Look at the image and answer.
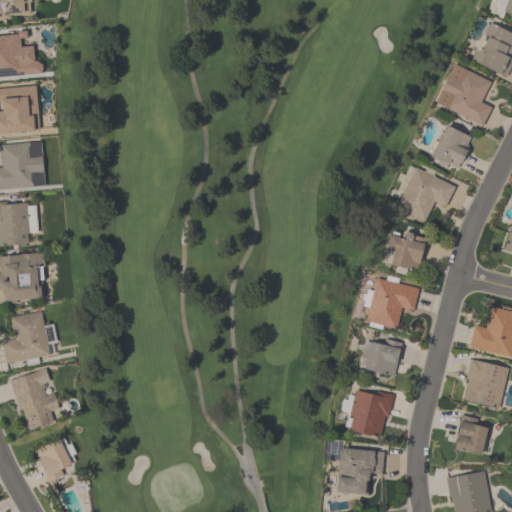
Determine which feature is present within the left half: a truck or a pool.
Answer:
pool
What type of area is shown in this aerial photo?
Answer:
golf course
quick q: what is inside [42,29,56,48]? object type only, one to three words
swimming pool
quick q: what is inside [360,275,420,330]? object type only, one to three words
house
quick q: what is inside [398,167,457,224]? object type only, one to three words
house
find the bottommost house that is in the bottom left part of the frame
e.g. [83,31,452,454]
[38,440,76,483]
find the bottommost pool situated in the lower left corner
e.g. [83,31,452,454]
[61,490,82,512]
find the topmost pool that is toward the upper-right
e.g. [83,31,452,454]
[471,21,488,40]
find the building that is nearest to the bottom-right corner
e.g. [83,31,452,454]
[448,472,494,512]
